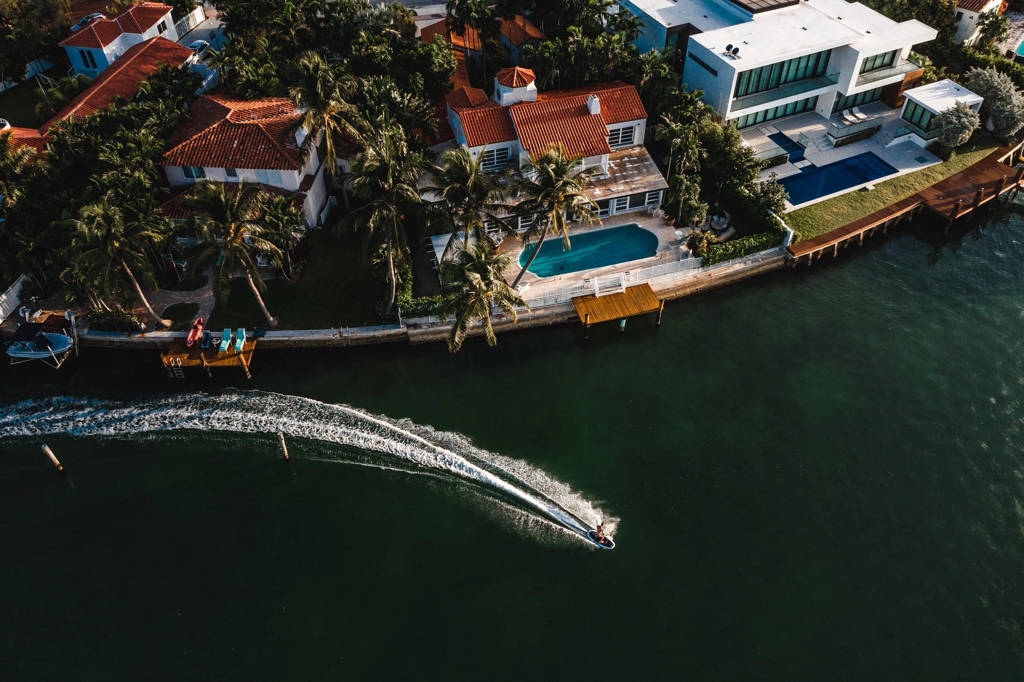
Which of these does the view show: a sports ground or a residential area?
residential area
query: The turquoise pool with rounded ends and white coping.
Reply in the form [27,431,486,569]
[514,220,663,281]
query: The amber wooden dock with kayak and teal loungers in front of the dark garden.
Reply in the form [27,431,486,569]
[161,338,258,380]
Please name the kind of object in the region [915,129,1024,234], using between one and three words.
pier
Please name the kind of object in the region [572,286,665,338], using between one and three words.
pier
